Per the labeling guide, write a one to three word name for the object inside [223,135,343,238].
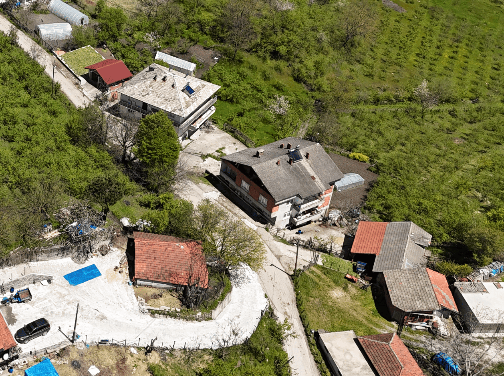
house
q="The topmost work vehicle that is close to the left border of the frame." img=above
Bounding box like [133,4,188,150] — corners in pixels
[0,285,33,306]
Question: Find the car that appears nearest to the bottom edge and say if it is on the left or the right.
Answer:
left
